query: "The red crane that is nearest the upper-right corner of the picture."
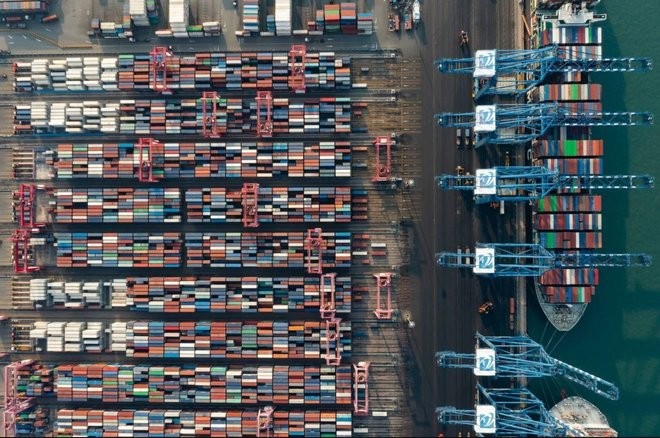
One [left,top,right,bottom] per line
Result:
[367,135,393,184]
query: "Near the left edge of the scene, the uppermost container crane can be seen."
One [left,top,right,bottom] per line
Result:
[21,182,57,228]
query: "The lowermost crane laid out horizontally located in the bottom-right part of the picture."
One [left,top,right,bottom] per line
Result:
[436,374,600,438]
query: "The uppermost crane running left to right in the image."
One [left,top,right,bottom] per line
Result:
[436,41,652,102]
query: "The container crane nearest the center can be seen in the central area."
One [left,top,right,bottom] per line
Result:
[302,226,328,273]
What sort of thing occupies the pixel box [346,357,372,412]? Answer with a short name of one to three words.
container crane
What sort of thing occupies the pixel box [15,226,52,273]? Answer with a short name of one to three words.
container crane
